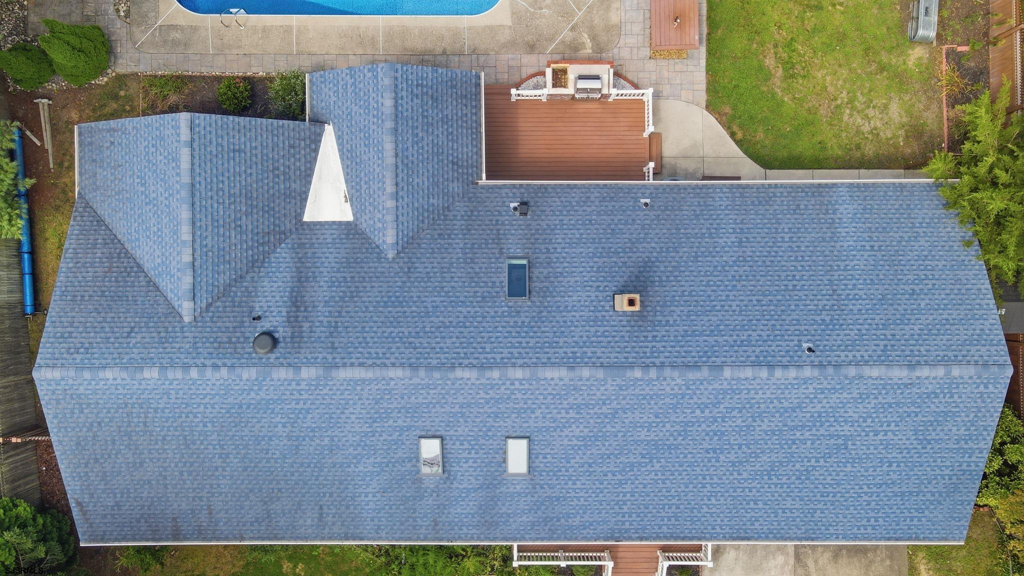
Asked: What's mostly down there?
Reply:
buildings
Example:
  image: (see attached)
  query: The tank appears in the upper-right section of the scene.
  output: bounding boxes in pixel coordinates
[908,0,940,51]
